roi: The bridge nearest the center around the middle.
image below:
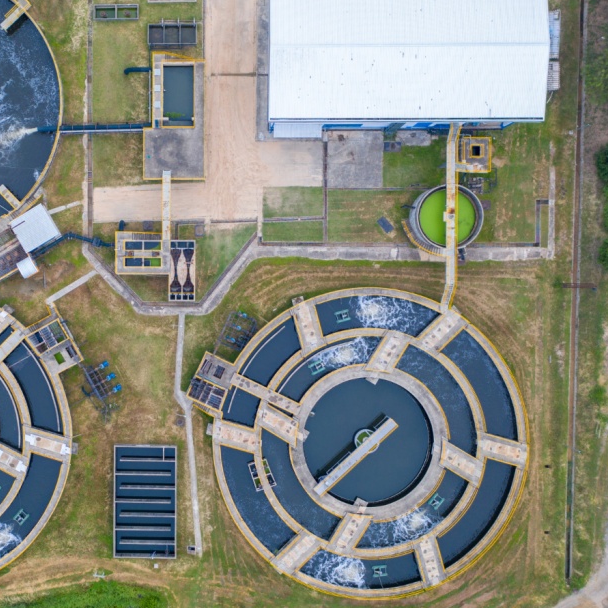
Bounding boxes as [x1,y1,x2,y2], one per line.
[292,295,326,352]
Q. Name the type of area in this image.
industrial area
